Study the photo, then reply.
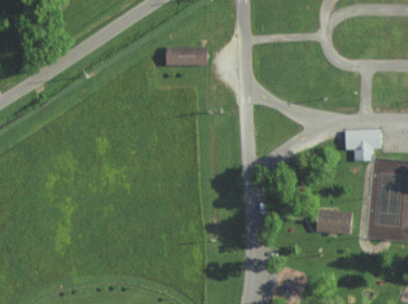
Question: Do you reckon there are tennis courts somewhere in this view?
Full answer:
Yes, looking at the shot, I can spot a tennis court.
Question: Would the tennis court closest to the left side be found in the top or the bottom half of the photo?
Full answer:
Seen from above, the tennis court closest to the left side lies in the bottom half of the view.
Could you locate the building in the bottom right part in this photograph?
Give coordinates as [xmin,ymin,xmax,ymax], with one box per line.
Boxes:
[316,208,352,236]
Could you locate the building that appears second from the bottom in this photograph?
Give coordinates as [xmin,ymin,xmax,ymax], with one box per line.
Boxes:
[344,130,382,162]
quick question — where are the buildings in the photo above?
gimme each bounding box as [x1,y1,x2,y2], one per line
[316,208,352,236]
[166,46,208,67]
[344,130,382,162]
